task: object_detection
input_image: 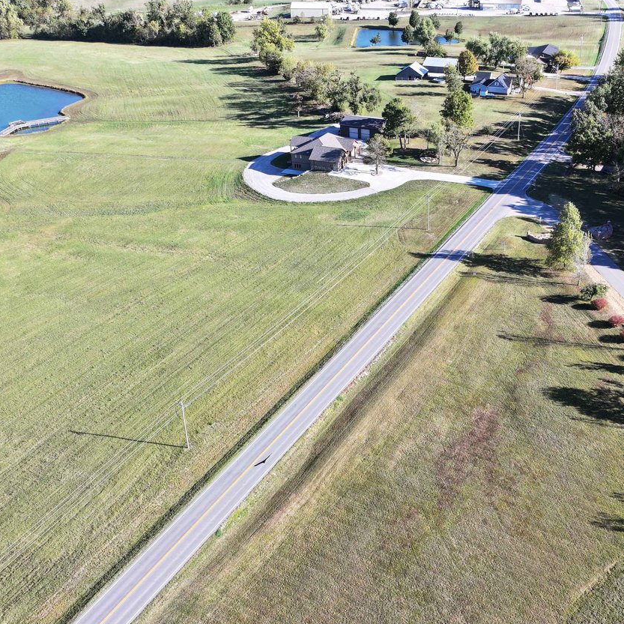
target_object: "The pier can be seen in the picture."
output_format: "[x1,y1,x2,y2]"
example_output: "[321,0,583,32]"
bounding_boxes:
[0,114,71,133]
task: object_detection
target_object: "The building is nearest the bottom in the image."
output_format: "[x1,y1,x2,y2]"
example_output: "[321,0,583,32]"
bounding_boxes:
[286,136,364,177]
